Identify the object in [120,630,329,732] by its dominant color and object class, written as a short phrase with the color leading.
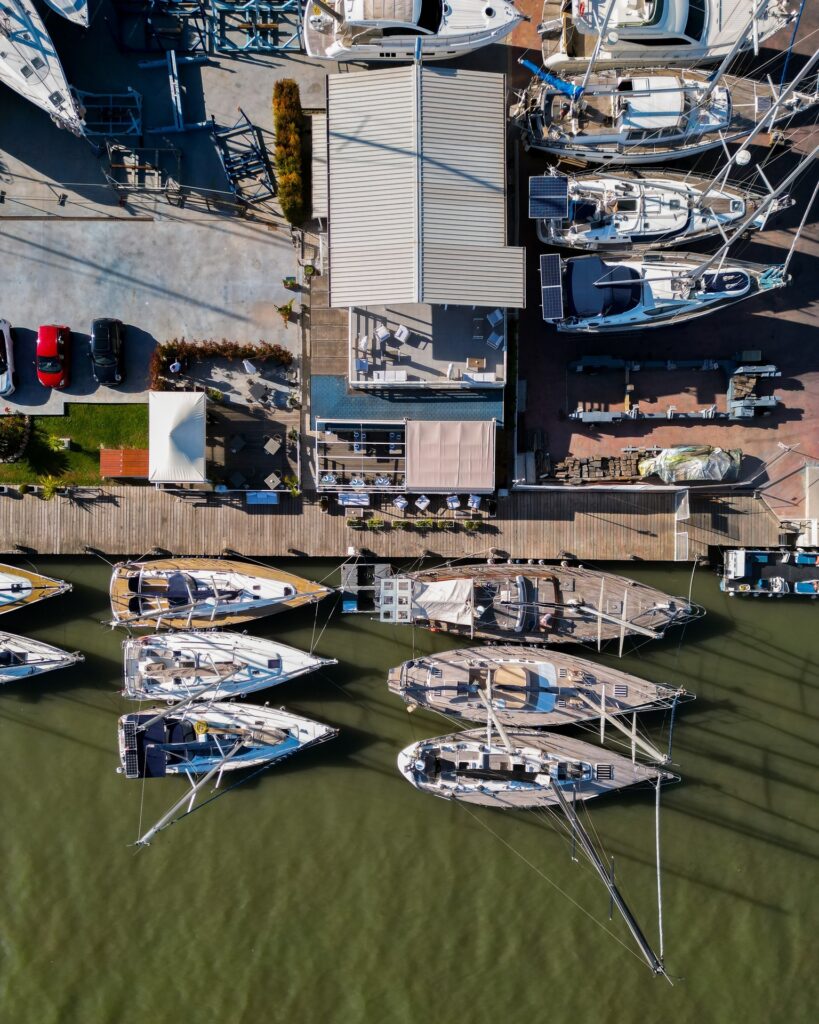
white boat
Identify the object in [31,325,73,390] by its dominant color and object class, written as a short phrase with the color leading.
red car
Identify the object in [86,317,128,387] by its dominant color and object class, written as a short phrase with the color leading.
black car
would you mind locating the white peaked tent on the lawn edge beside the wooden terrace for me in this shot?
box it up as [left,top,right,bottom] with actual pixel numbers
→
[149,392,216,487]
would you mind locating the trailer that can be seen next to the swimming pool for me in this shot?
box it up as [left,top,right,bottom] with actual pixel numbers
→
[570,352,781,424]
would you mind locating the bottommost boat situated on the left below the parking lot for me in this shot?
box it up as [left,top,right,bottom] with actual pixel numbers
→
[115,702,339,851]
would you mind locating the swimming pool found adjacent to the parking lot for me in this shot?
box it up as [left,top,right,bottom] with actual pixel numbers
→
[308,376,505,437]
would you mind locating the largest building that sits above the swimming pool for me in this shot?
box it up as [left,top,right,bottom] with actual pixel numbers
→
[313,66,528,390]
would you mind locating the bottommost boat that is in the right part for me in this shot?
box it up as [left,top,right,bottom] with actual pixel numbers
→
[398,725,679,988]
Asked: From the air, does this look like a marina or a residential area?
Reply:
marina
